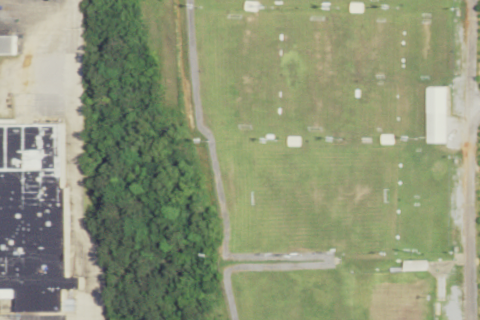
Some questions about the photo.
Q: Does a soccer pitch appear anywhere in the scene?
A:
Yes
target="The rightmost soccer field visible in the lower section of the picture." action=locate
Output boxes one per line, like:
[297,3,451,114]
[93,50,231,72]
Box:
[402,153,448,247]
